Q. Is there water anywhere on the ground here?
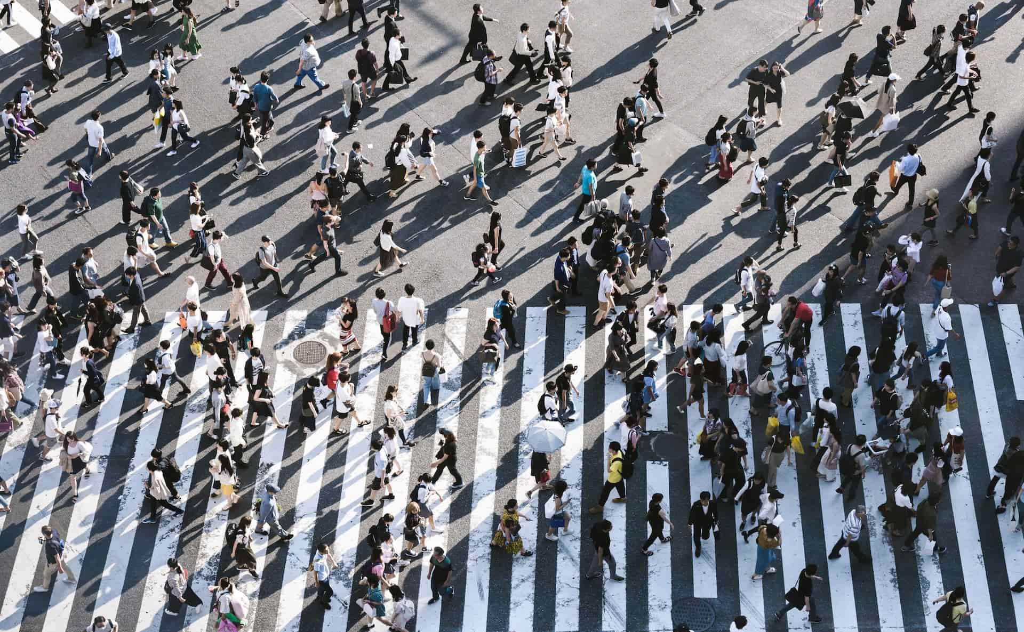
No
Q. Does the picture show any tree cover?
No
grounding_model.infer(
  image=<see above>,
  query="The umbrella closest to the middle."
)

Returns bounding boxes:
[524,414,572,464]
